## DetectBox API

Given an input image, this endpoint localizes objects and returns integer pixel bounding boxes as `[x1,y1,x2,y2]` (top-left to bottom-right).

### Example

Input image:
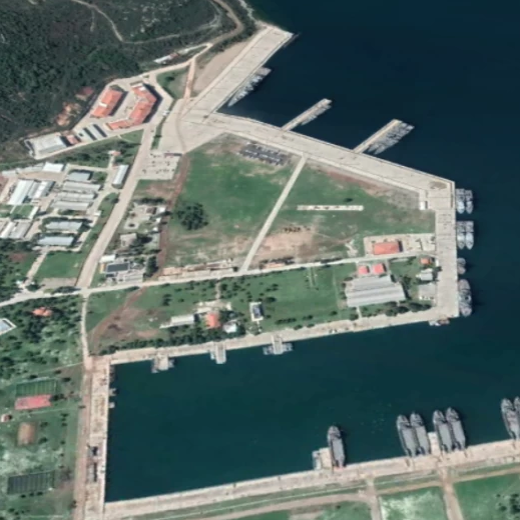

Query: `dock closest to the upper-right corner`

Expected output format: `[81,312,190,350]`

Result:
[354,119,401,153]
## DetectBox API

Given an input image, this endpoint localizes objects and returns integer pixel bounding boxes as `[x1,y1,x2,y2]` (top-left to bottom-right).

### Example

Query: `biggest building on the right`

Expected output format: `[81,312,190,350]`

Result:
[346,277,406,312]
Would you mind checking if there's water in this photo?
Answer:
Yes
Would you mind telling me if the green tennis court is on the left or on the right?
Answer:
left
